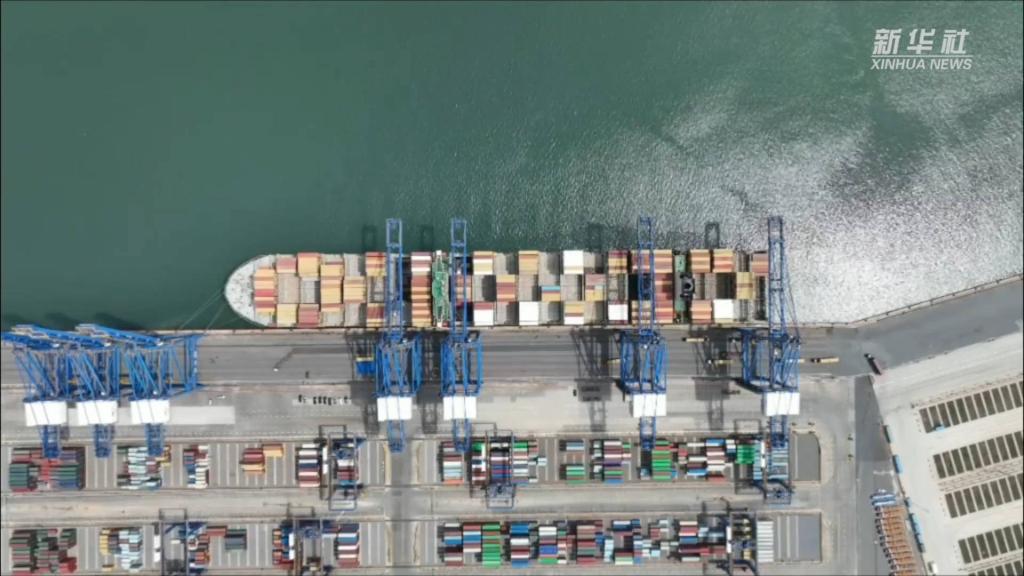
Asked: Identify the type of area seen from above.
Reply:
port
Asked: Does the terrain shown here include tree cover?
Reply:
No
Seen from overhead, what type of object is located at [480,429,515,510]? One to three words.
container crane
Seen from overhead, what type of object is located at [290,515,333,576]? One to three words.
container crane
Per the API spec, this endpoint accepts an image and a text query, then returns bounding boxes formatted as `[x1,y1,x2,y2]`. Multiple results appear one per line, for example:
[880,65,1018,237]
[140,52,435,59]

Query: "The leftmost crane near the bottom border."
[156,517,205,576]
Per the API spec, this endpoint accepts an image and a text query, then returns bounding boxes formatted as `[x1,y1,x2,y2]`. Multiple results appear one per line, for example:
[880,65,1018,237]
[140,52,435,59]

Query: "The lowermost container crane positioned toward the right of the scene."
[718,509,760,576]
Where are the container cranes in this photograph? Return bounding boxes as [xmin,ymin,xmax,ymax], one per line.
[480,429,515,510]
[324,430,366,512]
[440,218,487,451]
[751,423,794,505]
[0,331,110,456]
[74,323,204,454]
[376,219,428,452]
[733,215,804,447]
[290,515,333,576]
[156,517,205,576]
[12,323,155,455]
[718,509,760,576]
[614,216,671,449]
